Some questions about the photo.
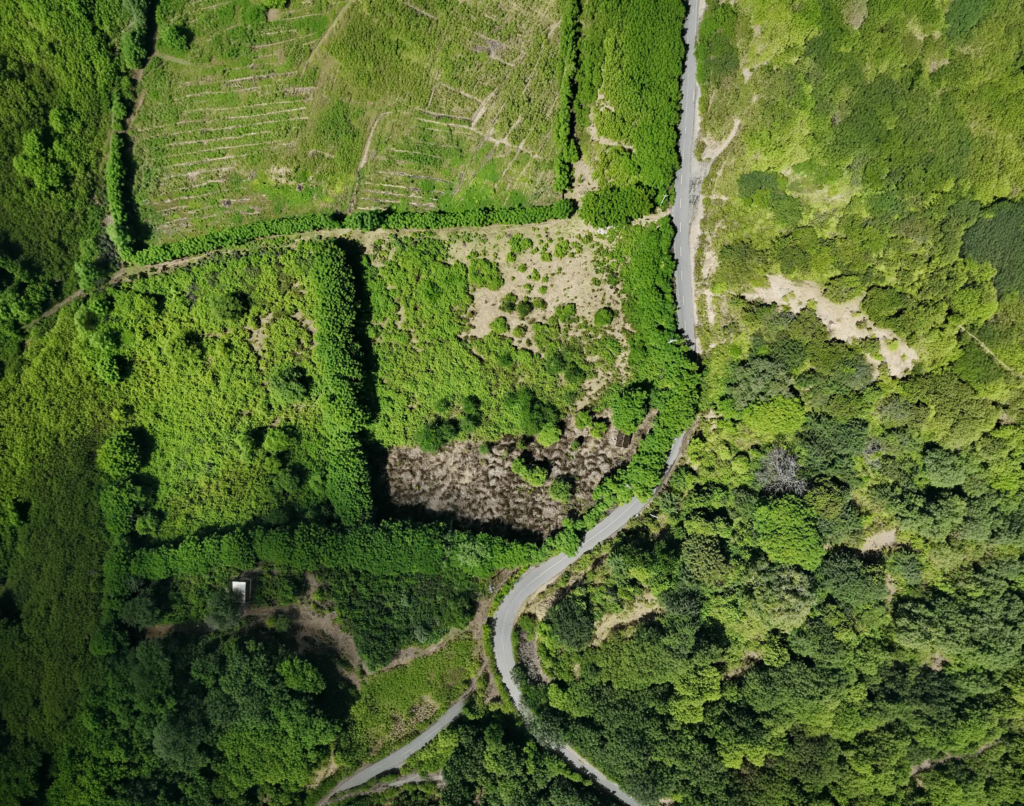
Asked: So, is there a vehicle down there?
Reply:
No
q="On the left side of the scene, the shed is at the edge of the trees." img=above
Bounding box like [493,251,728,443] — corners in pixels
[232,577,250,603]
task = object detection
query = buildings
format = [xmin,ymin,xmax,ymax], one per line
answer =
[614,423,630,447]
[232,577,250,603]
